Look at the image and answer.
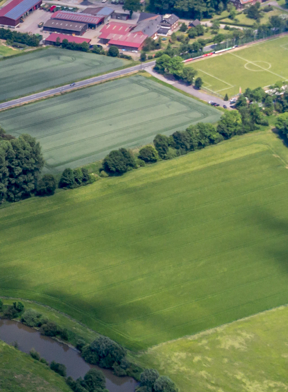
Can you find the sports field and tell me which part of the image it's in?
top right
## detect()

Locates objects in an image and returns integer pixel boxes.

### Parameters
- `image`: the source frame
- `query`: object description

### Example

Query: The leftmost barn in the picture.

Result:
[0,0,42,27]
